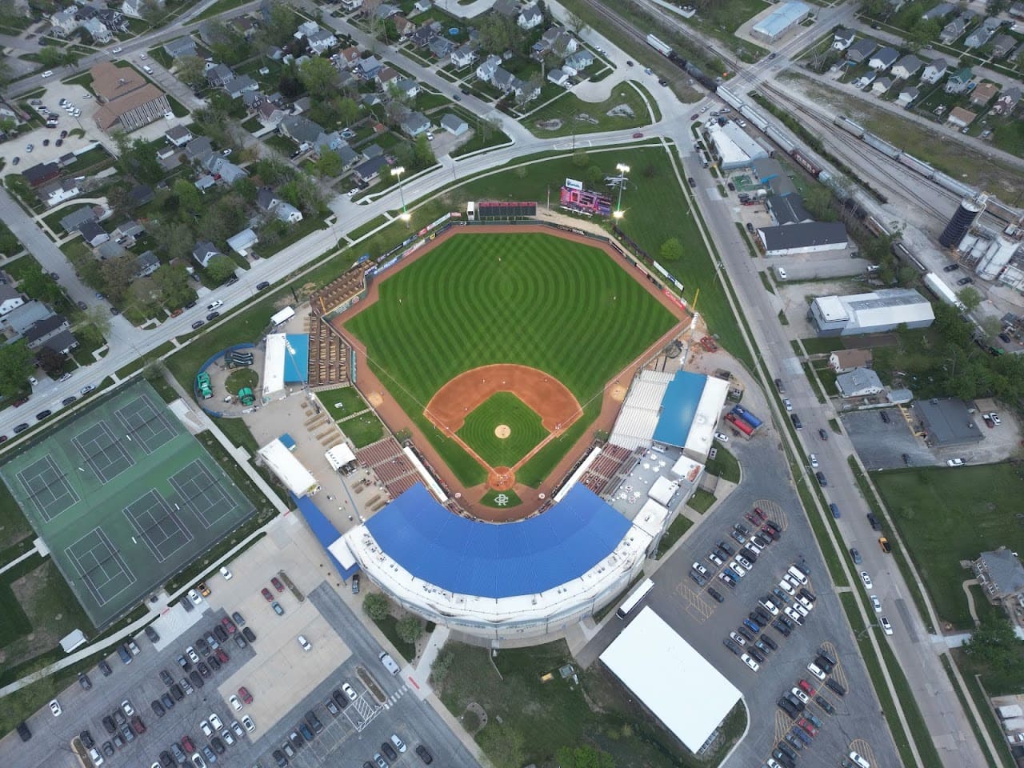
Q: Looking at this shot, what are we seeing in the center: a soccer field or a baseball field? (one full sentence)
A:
The one visible in the center is a baseball field.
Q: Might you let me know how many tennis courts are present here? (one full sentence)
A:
Altogether the scene contains 6 tennis courts.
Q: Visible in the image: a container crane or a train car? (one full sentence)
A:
Of the two, only a train car appears.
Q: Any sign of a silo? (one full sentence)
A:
Yes, the photo shows a silo.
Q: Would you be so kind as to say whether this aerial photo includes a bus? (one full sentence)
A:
Yes, there's a bus here.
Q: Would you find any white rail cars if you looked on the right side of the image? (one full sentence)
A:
Yes, a white rail car can be seen on the right side of the image.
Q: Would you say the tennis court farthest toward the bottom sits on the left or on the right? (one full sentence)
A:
You can find the tennis court farthest toward the bottom on the left side of the picture.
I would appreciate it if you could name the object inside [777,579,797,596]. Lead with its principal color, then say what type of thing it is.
white vehicle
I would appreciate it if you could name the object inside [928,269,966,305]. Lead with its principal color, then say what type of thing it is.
white rail car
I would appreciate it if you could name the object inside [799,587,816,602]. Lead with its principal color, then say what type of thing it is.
black car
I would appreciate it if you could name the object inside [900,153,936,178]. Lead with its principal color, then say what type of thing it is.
gray rail car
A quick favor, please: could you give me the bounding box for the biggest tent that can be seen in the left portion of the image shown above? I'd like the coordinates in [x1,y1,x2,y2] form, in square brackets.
[326,444,359,479]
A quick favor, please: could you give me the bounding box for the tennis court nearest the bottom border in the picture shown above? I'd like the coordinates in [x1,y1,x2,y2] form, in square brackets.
[65,527,136,606]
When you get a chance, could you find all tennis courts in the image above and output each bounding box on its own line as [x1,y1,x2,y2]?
[71,417,135,481]
[115,394,178,455]
[65,527,136,606]
[122,486,192,559]
[15,454,81,523]
[168,459,237,528]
